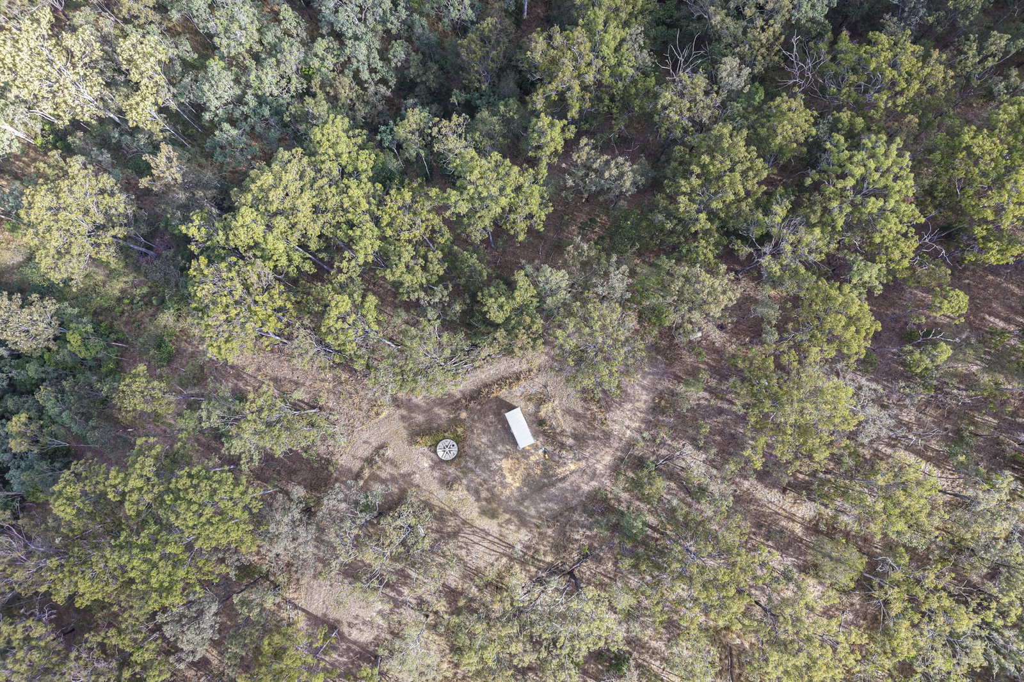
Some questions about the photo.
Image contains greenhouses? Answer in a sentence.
No, there appears to be no greenhouse in this shot.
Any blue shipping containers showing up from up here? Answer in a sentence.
No, the scene contains no blue shipping container.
